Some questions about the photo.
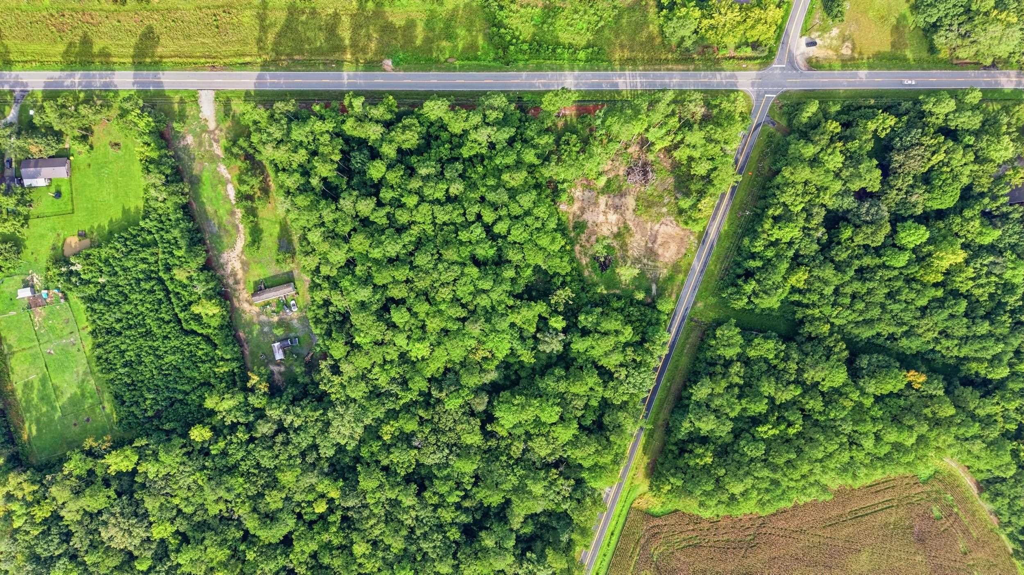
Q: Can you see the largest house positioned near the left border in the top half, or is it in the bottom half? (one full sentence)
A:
The largest house positioned near the left border sits in the top half of the picture.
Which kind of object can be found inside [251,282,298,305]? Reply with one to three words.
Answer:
house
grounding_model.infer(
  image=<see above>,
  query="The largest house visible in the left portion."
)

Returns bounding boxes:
[20,157,72,188]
